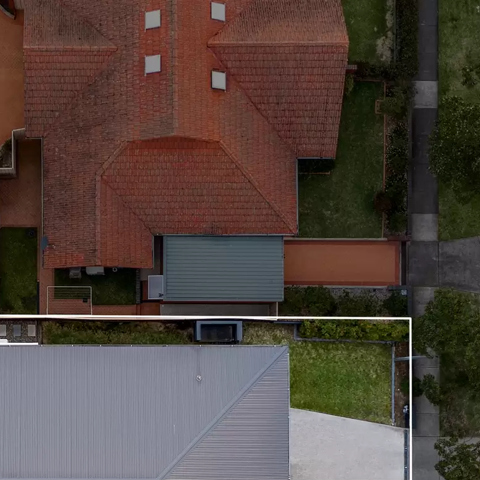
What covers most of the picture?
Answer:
buildings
